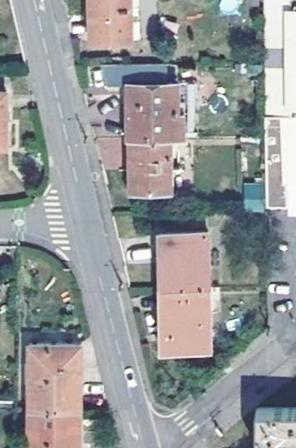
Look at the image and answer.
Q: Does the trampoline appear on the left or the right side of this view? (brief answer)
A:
right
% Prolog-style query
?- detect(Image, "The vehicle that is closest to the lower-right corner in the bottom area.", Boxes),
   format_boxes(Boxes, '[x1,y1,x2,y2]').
[274,299,295,311]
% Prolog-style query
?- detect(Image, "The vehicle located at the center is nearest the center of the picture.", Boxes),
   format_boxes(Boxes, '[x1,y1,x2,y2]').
[129,248,152,260]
